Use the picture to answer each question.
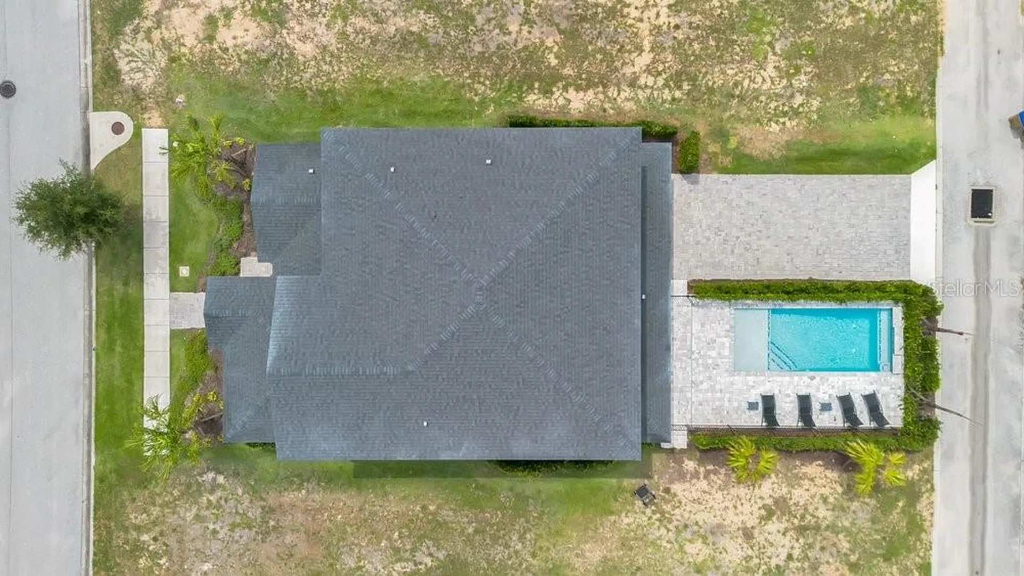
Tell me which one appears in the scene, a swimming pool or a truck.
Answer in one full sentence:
The image shows a swimming pool.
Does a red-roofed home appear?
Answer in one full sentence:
No, there is no red-roofed home in the image.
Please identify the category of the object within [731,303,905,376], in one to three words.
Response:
swimming pool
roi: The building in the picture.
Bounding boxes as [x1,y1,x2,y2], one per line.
[202,127,673,461]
